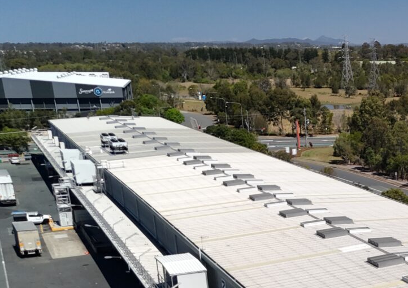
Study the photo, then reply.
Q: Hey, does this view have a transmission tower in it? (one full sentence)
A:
Yes, the picture does show a transmission tower.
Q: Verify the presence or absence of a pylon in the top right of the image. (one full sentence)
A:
Yes, in the top right of the image there is a pylon.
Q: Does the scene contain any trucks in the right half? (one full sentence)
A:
No, I see no truck in the right half.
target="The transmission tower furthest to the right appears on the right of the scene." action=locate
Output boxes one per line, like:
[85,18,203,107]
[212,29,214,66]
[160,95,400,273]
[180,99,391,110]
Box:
[363,40,386,93]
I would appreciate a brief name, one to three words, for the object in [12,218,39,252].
truck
